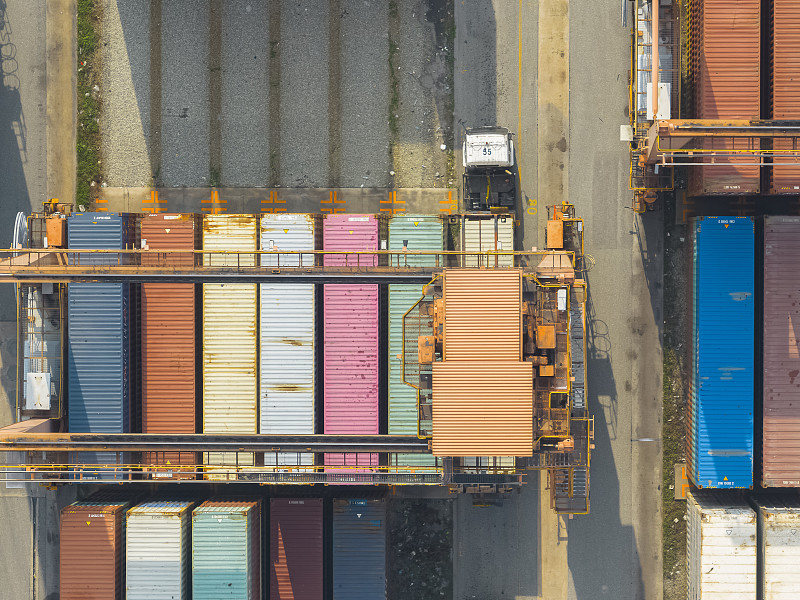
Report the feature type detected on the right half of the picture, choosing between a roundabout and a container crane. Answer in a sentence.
Visible on the right half of the picture is a container crane.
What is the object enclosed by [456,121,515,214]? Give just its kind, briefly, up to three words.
truck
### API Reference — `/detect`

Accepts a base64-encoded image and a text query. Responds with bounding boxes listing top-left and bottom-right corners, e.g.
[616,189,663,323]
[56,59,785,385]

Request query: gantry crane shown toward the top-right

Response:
[616,0,800,227]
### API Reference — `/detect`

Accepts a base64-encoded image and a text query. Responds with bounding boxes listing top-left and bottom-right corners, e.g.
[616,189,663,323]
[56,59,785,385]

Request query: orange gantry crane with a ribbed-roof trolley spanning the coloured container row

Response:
[0,192,595,520]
